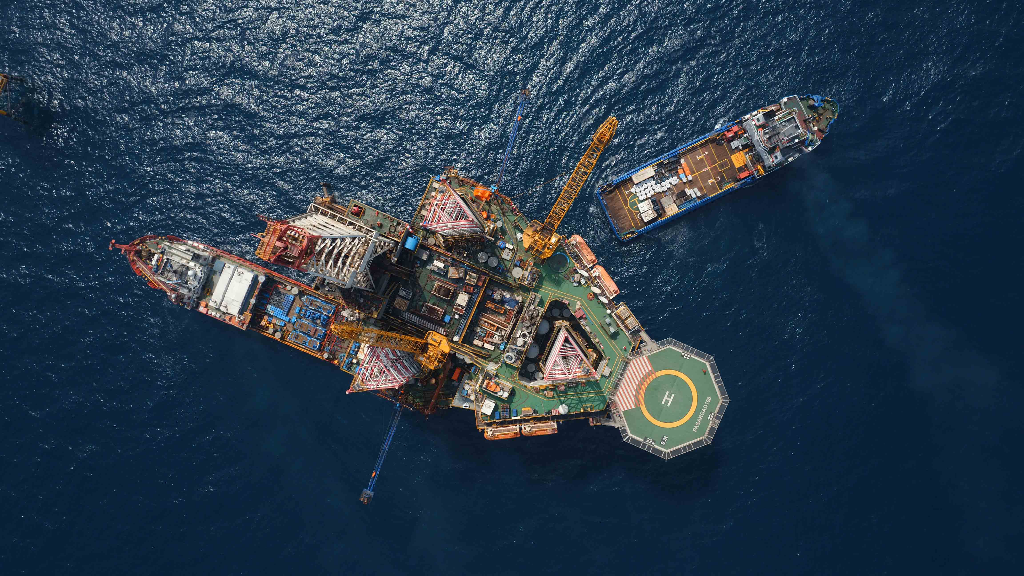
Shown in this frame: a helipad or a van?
helipad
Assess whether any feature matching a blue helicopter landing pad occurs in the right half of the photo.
No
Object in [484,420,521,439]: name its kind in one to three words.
boat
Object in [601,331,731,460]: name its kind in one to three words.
helipad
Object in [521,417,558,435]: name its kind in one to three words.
boat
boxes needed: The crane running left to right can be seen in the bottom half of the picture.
[311,321,452,377]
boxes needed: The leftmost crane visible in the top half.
[522,115,618,263]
